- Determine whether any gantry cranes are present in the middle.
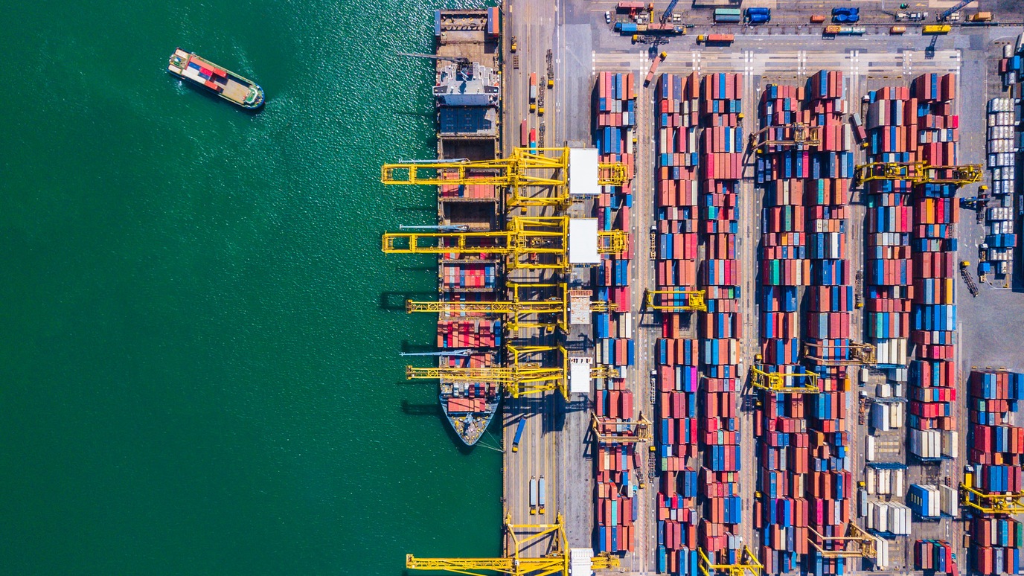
Yes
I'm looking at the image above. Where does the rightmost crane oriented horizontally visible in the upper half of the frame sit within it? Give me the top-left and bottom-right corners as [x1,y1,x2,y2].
[910,163,985,191]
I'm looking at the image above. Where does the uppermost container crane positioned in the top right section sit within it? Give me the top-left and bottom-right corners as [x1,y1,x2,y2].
[751,122,819,152]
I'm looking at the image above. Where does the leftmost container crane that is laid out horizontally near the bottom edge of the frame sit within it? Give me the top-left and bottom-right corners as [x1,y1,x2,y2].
[403,507,620,576]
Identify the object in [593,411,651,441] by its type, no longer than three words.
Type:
container crane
